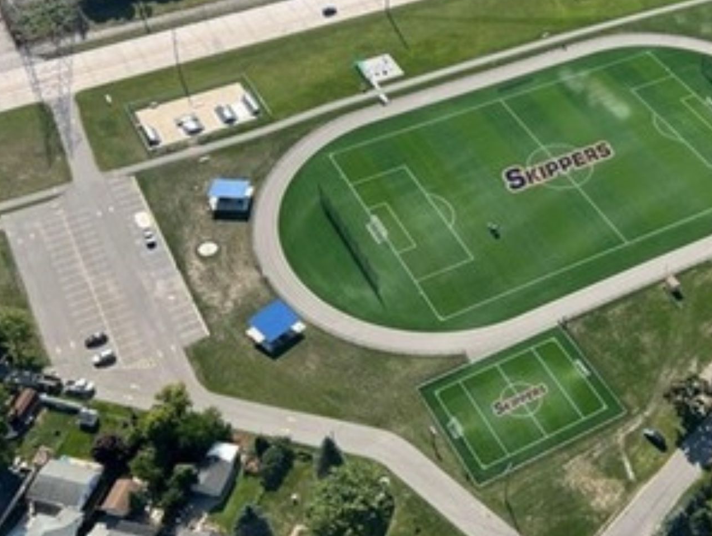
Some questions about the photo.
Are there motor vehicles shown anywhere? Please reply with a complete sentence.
Yes, I can see a motor vehicle in this picture.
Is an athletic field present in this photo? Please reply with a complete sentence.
Yes, the image includes an athletic field.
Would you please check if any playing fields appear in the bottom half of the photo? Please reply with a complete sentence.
Yes, I can see a playing field in the bottom half of the photo.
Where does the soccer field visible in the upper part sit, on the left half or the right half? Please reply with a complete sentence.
It is on the right.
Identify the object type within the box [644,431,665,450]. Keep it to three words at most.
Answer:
car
